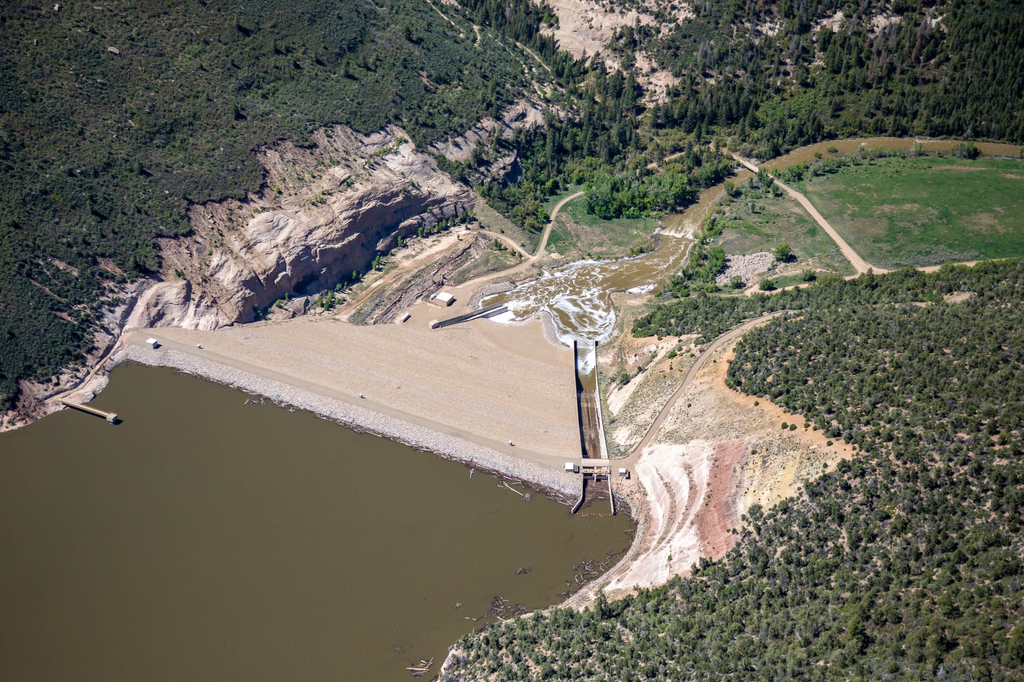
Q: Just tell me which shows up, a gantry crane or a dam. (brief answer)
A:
dam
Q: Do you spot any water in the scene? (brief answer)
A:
Yes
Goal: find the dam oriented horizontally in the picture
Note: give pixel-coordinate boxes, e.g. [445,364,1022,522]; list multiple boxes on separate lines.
[118,317,582,508]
